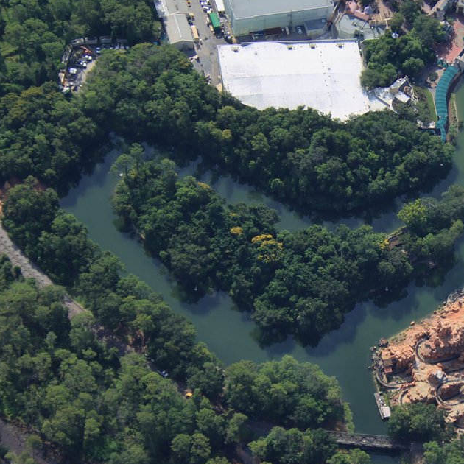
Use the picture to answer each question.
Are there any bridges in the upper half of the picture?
No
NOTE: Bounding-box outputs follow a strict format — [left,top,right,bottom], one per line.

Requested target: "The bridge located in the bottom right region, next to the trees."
[355,431,412,455]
